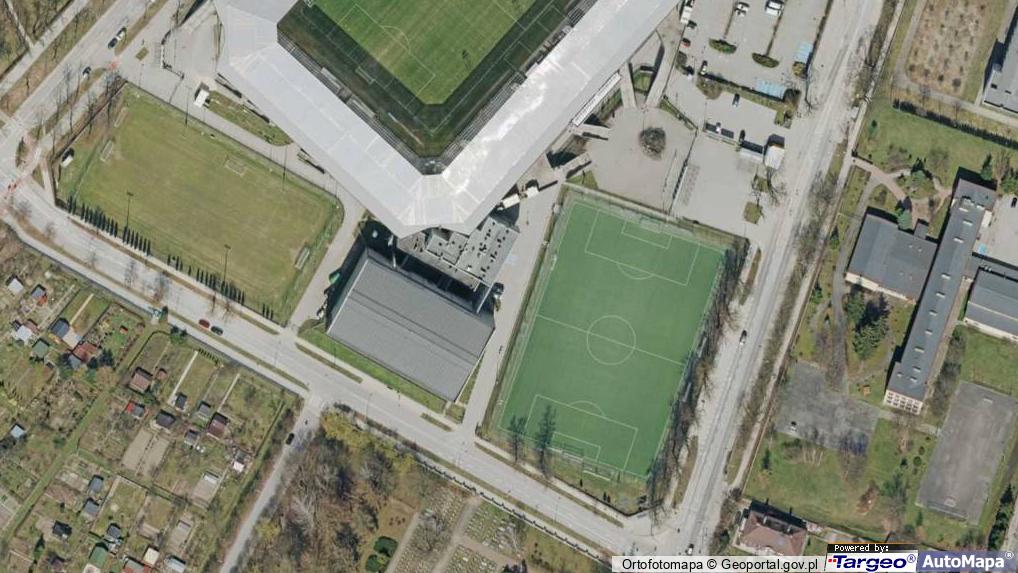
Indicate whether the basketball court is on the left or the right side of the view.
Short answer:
right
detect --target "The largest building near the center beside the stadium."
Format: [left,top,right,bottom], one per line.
[323,248,494,404]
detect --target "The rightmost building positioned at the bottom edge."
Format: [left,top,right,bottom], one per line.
[730,512,807,564]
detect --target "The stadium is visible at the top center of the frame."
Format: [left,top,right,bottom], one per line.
[215,0,691,241]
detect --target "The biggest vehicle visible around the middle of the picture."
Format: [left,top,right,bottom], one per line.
[492,281,508,293]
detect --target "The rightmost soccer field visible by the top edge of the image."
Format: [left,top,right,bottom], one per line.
[294,0,564,143]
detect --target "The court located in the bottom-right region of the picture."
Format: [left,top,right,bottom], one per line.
[917,381,1018,525]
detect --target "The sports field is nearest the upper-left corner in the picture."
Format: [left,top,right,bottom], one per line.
[72,99,323,318]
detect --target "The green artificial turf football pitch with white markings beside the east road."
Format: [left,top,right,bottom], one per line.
[494,199,727,480]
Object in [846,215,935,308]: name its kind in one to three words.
building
